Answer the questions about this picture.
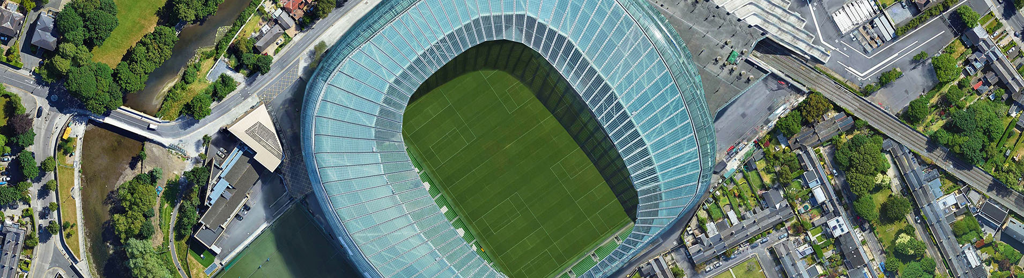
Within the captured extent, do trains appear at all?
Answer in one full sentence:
No, no train is visible in the view.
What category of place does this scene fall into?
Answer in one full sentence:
The picture captures a sports ground.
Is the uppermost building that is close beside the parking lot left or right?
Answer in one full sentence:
It is on the left.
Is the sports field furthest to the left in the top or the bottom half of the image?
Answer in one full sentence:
The bottom half of the photo is where the sports field furthest to the left is.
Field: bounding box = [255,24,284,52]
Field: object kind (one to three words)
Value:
house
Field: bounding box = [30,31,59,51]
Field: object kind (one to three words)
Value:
house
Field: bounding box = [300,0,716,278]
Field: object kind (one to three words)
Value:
stadium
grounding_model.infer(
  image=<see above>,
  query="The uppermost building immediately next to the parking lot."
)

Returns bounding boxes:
[227,103,286,173]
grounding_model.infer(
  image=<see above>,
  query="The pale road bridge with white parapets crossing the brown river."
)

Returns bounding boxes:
[87,106,168,148]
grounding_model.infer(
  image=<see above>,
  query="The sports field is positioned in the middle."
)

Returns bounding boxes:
[401,39,639,278]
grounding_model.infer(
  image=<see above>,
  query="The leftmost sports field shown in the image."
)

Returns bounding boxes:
[219,207,359,278]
